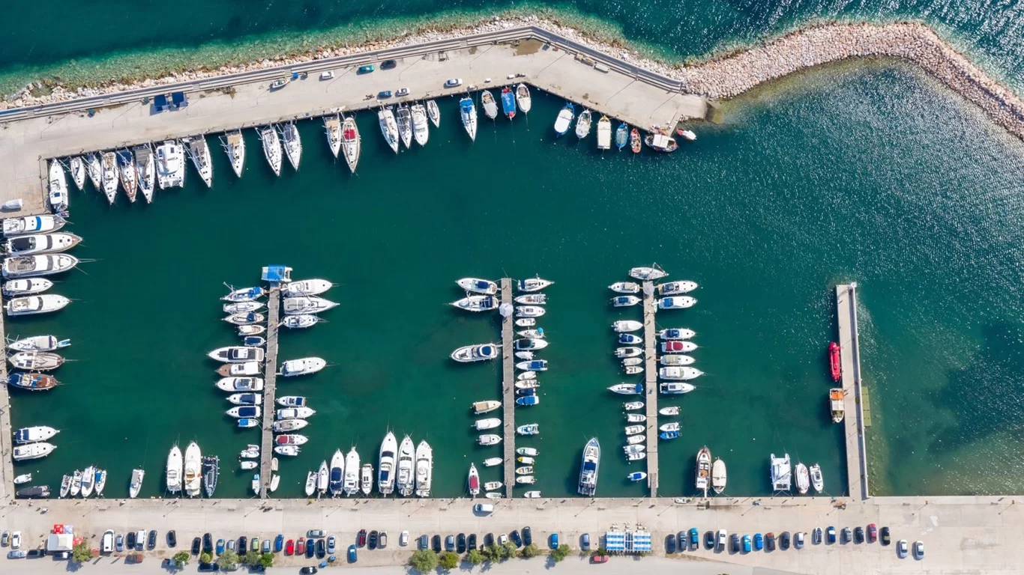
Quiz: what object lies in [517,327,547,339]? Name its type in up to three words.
boat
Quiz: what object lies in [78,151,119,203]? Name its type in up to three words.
boat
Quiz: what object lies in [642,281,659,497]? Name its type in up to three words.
pier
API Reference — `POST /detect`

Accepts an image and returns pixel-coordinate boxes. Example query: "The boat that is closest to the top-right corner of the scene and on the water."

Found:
[676,129,697,142]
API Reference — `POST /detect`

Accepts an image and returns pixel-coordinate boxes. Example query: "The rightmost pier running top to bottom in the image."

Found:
[835,284,869,498]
